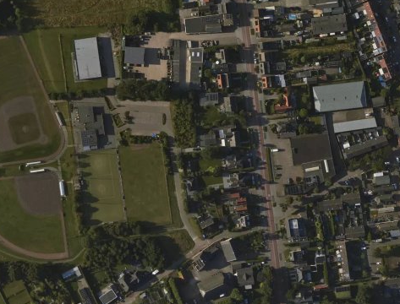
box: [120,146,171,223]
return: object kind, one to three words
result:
sports field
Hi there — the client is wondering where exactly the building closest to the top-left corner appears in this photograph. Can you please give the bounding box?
[74,37,101,80]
